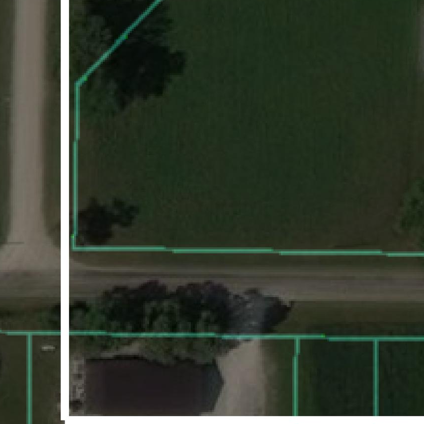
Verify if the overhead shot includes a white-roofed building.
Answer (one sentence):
No, no white-roofed building is visible in the scene.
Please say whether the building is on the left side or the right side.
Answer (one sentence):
You can find the building on the left side of the picture.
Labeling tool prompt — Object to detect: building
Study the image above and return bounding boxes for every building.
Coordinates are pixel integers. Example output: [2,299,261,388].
[85,356,203,417]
